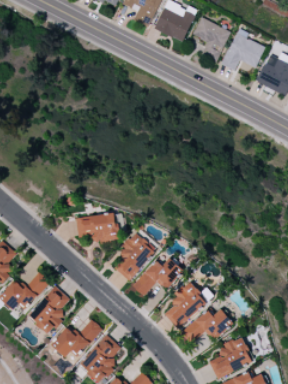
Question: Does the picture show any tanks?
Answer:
No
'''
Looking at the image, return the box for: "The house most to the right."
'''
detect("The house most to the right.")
[258,53,288,94]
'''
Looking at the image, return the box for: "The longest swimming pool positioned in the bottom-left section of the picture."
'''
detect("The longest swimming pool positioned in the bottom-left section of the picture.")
[22,326,39,346]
